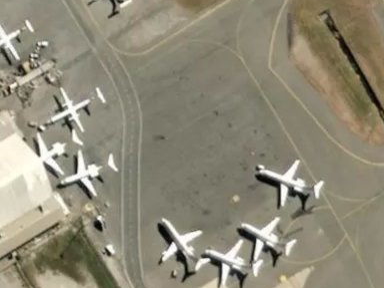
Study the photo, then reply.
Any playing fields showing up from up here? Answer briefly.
No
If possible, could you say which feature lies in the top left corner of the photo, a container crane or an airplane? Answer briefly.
airplane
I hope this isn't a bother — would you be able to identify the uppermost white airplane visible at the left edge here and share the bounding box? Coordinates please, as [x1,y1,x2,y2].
[0,19,36,58]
